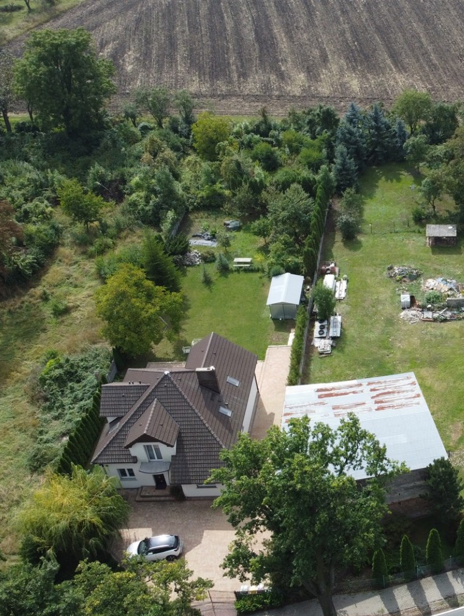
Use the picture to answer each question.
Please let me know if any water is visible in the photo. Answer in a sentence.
No, no water is visible.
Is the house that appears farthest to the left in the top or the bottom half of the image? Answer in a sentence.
The bottom half of the photo is where the house that appears farthest to the left is.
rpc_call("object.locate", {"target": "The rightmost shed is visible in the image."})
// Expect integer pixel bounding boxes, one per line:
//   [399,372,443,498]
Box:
[427,225,456,248]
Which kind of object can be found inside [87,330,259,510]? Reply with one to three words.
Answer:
house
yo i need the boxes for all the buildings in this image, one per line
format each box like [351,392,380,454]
[427,225,456,248]
[87,330,259,510]
[281,372,445,524]
[266,271,303,318]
